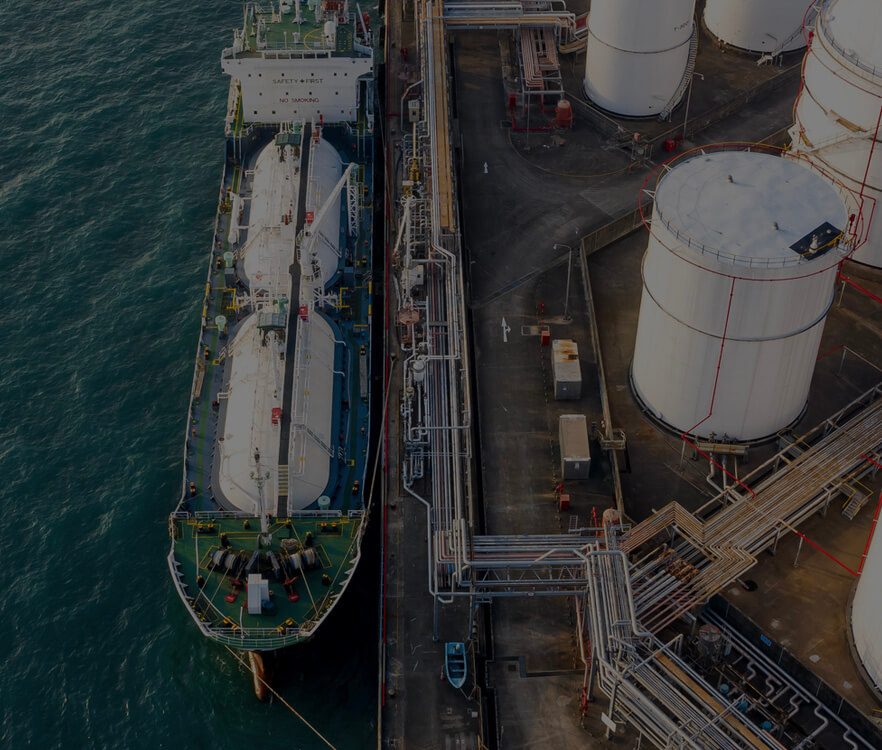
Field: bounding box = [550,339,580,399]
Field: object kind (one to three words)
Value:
shipping container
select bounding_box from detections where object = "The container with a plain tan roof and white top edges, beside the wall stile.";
[559,415,591,479]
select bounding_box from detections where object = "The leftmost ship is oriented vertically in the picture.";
[167,0,376,706]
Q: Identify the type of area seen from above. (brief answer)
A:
industrial area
